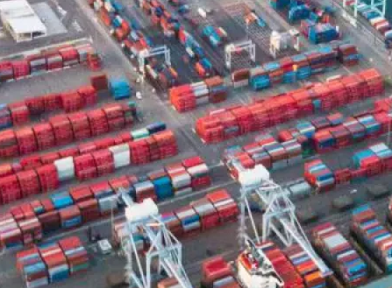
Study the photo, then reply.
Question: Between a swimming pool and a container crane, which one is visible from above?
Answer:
container crane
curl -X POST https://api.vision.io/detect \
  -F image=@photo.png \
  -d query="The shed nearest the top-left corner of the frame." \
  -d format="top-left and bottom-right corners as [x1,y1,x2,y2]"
[0,0,47,43]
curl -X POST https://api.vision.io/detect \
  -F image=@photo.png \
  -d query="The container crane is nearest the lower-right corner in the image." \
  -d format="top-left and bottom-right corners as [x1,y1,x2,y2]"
[227,167,334,282]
